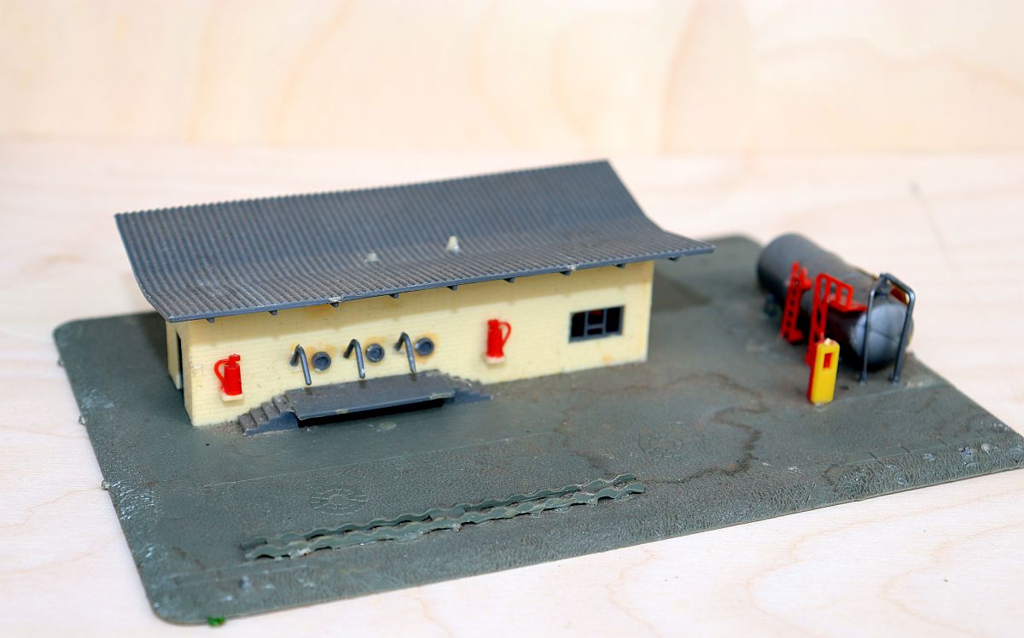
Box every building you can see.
[115,159,714,426]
